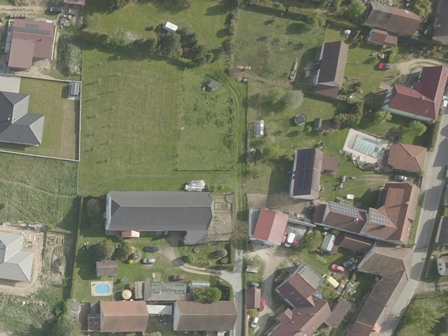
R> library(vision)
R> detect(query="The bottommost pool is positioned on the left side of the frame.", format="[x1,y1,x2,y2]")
[93,282,111,294]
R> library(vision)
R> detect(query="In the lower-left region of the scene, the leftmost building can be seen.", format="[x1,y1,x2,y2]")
[0,232,33,283]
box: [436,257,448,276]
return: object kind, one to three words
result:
vehicle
